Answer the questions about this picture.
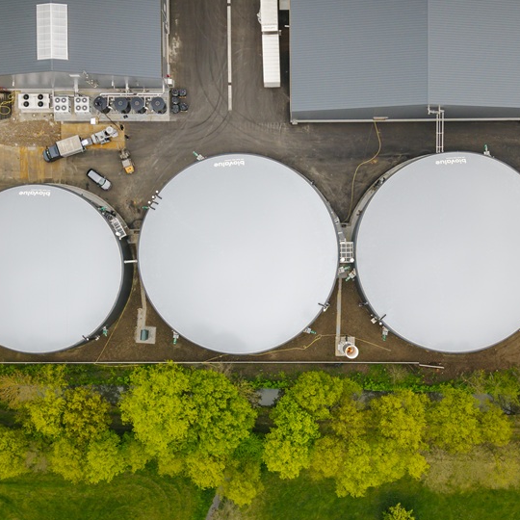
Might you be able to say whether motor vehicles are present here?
Yes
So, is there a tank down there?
Yes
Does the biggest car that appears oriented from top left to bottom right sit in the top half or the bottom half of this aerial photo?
top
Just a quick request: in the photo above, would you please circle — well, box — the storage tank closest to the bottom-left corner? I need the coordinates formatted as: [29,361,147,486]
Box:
[0,183,139,355]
